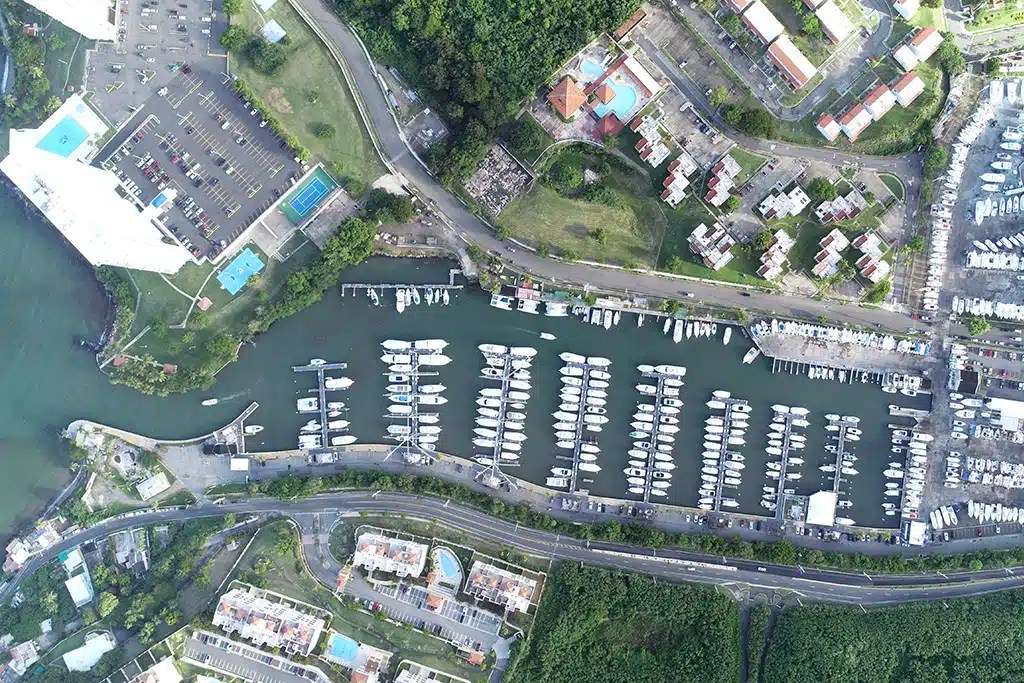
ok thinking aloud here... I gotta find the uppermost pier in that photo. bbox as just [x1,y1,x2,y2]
[342,269,463,296]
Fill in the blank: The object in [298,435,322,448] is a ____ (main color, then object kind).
white boat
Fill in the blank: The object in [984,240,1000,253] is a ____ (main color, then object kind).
white boat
